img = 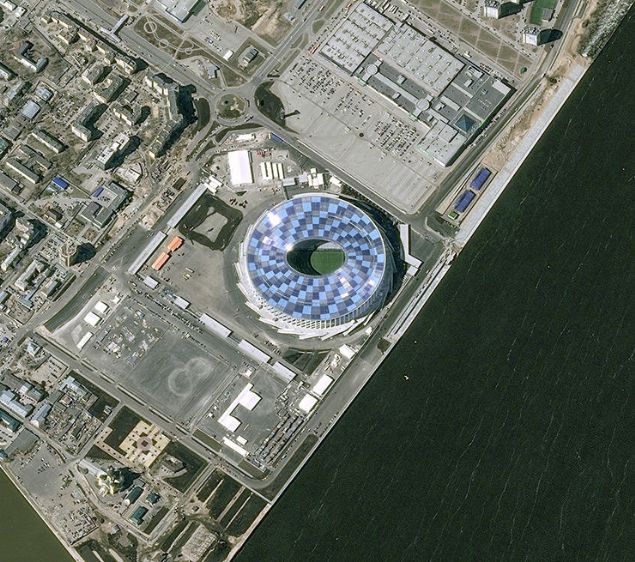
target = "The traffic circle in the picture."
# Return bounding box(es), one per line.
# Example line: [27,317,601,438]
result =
[208,85,254,127]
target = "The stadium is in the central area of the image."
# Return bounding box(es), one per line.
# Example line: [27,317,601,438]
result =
[234,192,398,343]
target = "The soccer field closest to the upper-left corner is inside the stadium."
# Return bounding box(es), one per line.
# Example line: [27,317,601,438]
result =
[287,246,345,275]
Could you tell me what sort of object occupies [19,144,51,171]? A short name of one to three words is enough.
building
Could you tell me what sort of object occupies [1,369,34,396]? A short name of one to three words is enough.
building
